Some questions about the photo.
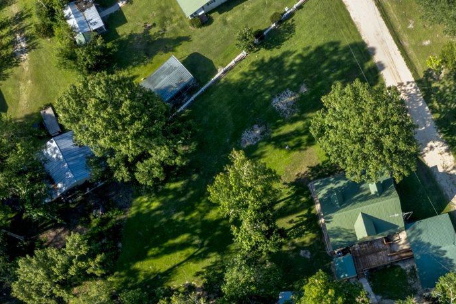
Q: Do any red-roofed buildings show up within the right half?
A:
No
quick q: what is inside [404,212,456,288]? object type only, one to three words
building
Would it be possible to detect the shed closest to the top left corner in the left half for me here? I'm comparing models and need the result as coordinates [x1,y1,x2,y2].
[60,0,109,49]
